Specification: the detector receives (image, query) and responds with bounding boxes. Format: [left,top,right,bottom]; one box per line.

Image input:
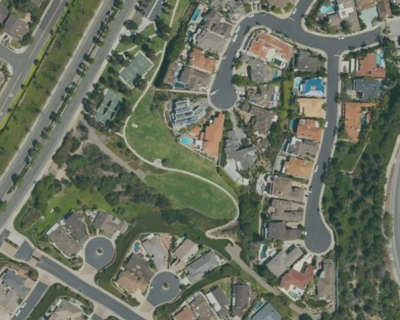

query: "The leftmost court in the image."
[93,84,122,121]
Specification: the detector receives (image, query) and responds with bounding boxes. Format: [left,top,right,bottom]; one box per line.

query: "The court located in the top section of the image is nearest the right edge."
[118,50,154,89]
